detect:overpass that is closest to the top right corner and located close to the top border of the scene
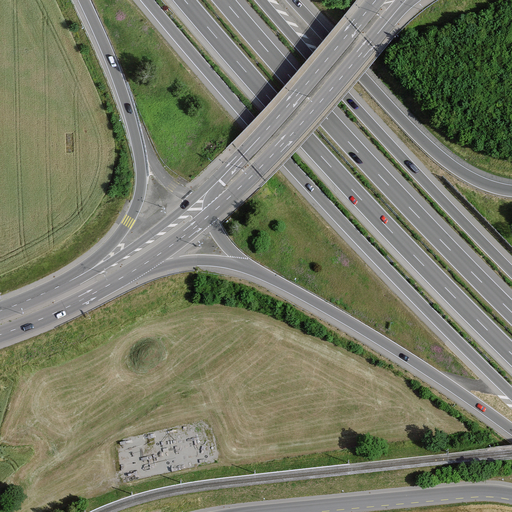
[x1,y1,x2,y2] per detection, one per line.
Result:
[190,0,394,190]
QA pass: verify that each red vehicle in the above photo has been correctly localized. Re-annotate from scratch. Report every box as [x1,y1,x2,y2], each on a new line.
[380,214,389,224]
[476,404,486,412]
[349,196,358,205]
